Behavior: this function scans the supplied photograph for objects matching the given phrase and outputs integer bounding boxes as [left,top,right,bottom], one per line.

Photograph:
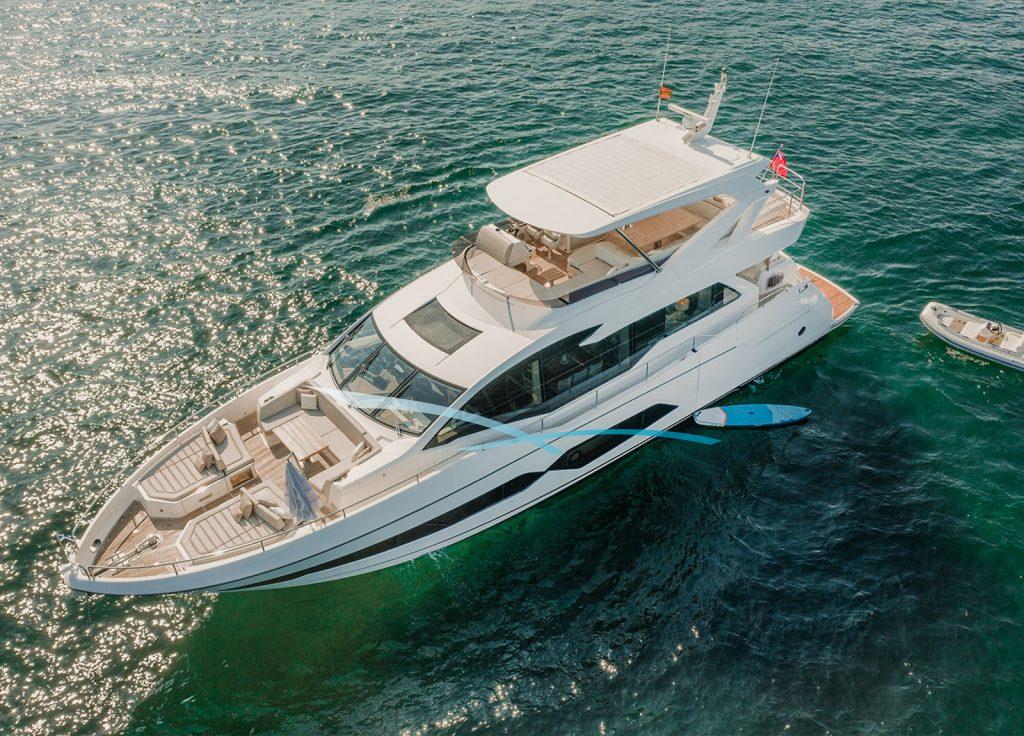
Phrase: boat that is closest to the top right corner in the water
[920,303,1024,376]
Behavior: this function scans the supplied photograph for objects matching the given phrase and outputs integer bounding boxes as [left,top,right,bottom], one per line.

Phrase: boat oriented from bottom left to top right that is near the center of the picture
[56,36,859,596]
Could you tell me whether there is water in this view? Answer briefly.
Yes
